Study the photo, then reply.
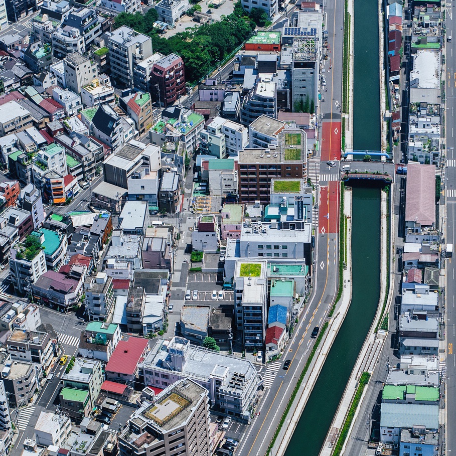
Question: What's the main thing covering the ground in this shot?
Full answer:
The scene is dominated by buildings.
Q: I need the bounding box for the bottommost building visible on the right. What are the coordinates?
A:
[400,429,440,456]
